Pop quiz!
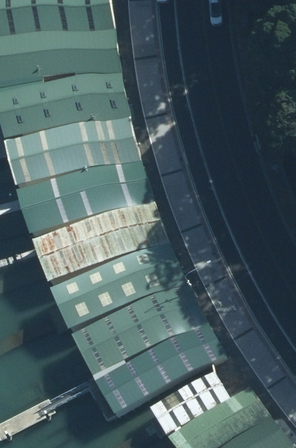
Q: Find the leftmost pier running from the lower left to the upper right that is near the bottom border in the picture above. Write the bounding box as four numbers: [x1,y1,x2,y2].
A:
[0,400,59,444]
